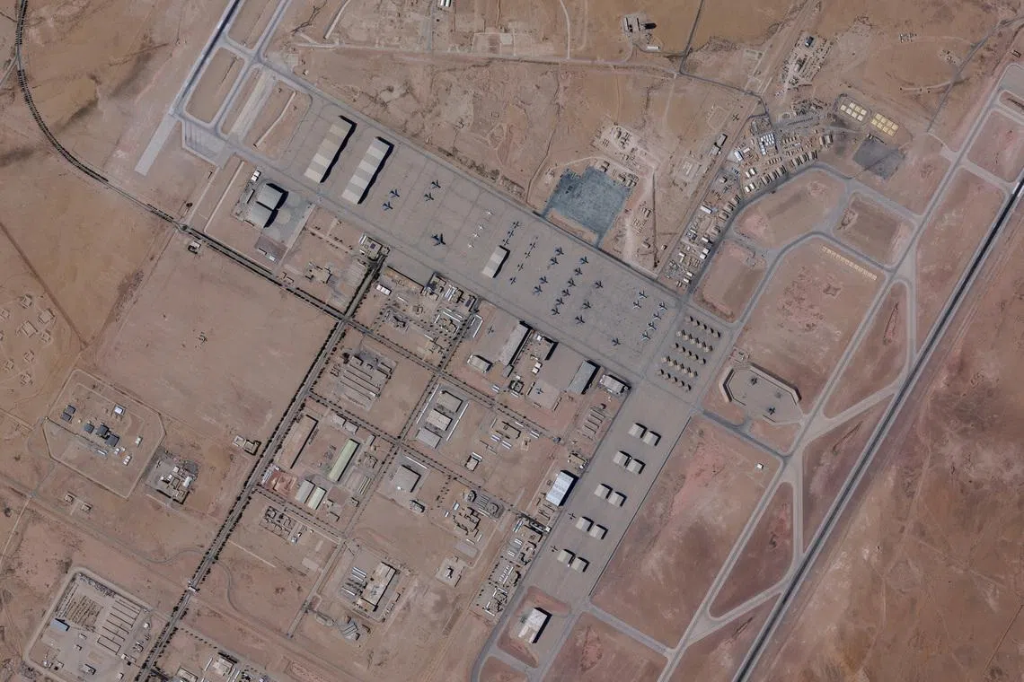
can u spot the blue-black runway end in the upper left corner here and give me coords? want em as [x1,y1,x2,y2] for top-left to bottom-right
[166,0,241,118]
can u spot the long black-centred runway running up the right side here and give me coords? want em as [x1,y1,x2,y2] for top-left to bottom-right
[730,167,1024,682]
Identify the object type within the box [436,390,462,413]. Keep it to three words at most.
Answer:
building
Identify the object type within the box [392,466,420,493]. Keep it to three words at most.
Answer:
building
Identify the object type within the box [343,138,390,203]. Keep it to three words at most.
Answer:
hangar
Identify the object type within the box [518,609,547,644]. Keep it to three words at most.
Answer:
hangar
